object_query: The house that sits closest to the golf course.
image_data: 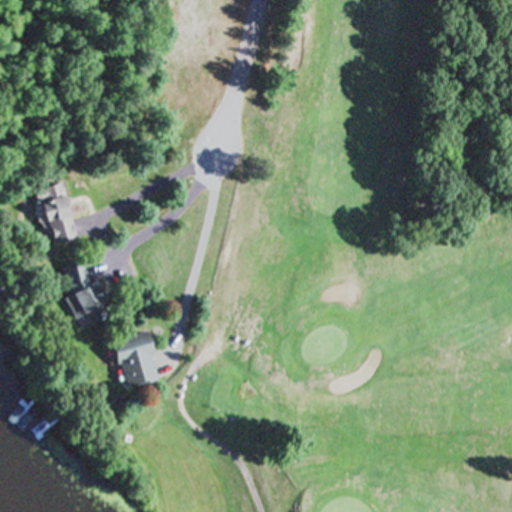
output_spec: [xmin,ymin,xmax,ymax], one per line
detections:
[110,331,158,388]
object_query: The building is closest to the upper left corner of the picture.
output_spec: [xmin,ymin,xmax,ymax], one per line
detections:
[34,182,75,241]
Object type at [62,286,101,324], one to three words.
house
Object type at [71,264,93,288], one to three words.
building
